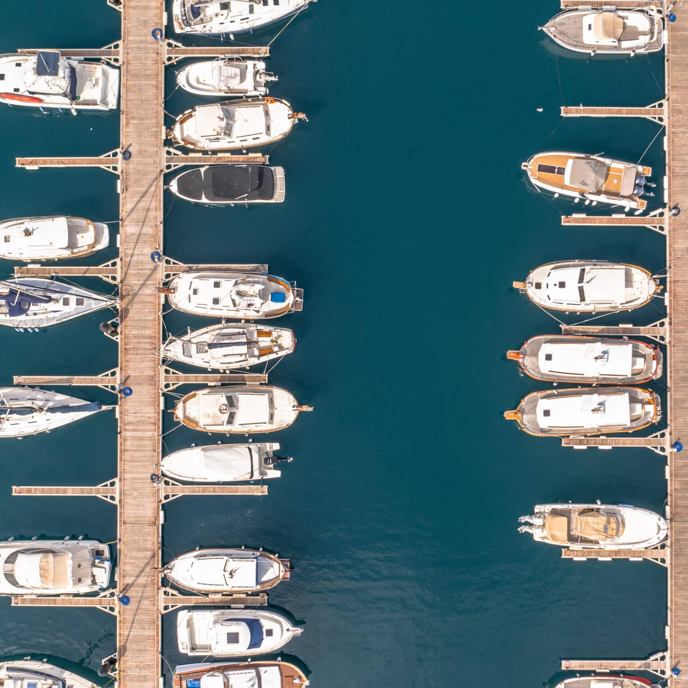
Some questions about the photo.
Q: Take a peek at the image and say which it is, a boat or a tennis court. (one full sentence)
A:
Looking from above, you can make out a boat.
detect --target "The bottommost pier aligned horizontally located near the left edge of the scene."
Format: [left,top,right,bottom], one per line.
[10,587,118,614]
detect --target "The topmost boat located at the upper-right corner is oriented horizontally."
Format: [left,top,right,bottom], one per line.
[537,6,662,58]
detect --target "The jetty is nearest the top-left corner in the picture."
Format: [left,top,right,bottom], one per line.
[16,41,121,68]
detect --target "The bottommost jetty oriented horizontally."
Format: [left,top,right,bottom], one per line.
[559,648,668,678]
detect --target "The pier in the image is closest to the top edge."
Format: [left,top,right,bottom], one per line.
[559,0,664,18]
